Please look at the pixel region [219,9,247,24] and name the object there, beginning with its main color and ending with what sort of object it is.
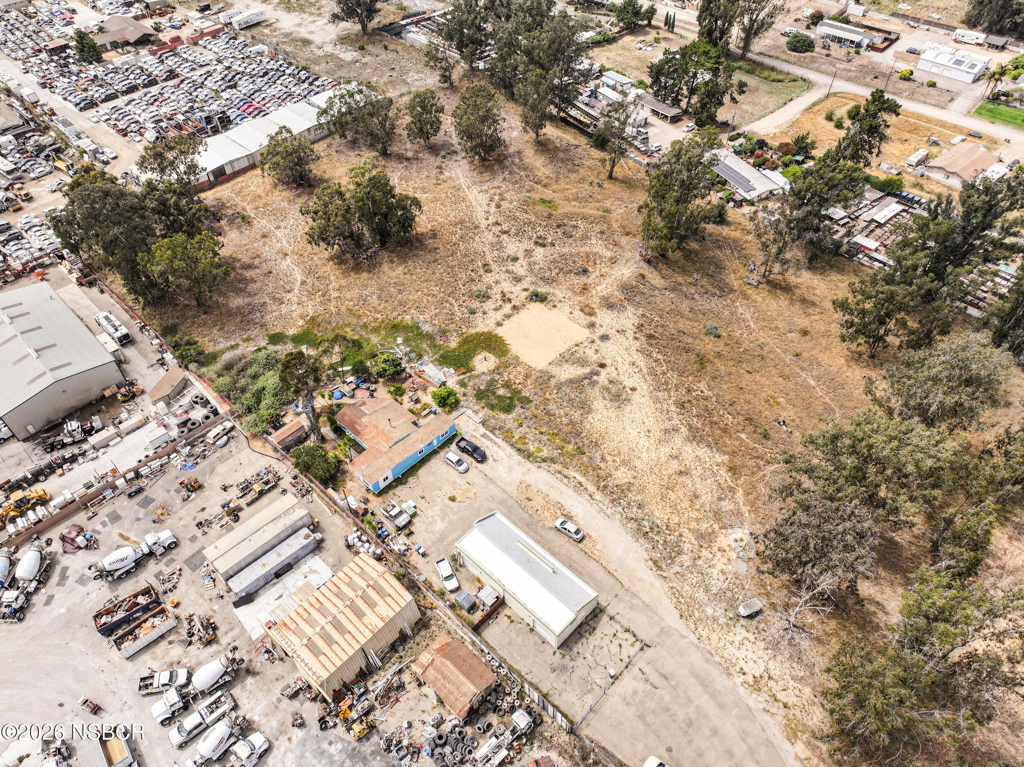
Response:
white vehicle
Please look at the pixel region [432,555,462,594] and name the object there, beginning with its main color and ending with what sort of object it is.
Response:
white truck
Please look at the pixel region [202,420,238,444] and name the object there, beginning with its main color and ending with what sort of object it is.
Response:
white car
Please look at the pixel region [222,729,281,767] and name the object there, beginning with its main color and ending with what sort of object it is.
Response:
white truck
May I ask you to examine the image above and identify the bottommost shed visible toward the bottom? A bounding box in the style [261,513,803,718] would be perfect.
[408,628,501,726]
